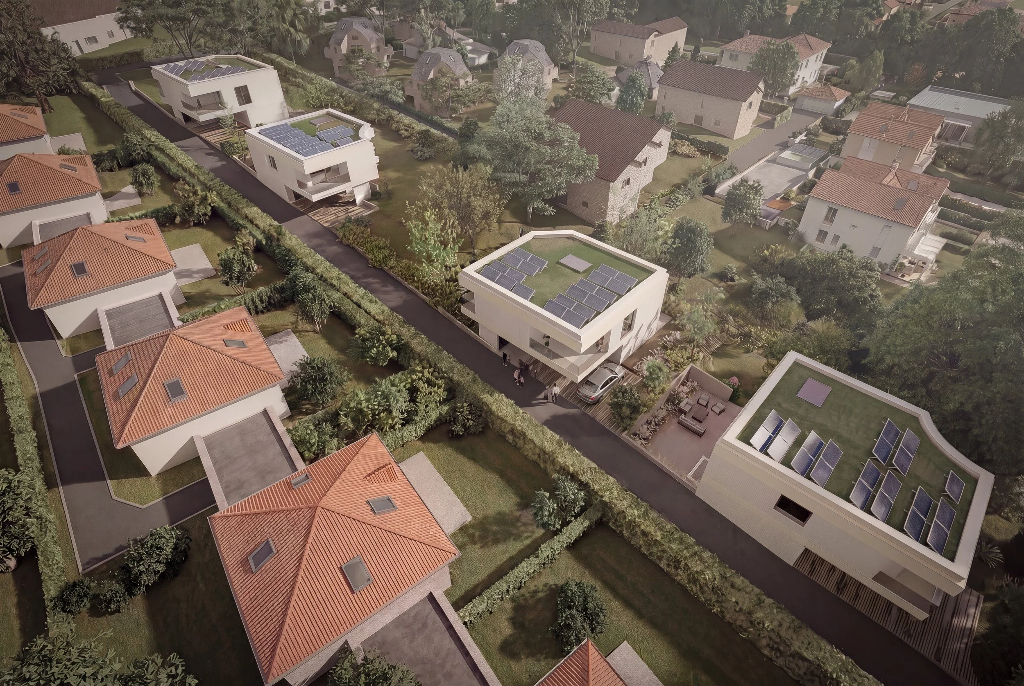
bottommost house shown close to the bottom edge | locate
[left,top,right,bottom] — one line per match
[529,637,628,686]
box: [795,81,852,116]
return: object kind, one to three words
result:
building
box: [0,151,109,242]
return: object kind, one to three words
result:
house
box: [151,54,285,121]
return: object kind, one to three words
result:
house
